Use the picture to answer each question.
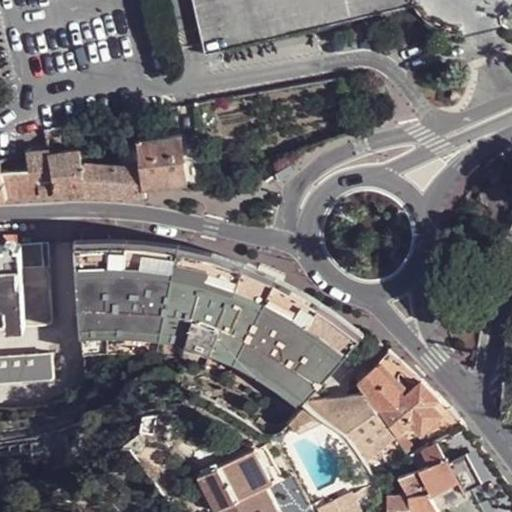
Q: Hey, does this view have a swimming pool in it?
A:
Yes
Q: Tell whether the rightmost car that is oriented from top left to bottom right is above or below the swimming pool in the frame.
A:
above it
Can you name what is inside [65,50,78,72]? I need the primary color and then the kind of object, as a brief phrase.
white vehicle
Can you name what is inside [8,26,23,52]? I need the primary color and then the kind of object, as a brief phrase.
white car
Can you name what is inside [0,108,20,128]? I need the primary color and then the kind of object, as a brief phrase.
white car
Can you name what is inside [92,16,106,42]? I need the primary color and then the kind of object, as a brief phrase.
white vehicle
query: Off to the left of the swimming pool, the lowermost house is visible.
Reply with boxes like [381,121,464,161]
[197,442,284,512]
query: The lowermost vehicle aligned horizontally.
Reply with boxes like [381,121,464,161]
[152,225,180,238]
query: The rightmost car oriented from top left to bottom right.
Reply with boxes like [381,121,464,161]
[328,284,352,304]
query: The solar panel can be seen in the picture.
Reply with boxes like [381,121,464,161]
[240,458,266,490]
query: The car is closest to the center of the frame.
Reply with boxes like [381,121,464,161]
[307,268,328,292]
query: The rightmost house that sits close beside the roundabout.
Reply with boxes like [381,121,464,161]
[358,352,458,443]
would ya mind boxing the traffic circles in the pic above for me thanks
[296,162,436,308]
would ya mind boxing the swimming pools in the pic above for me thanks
[285,421,370,498]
